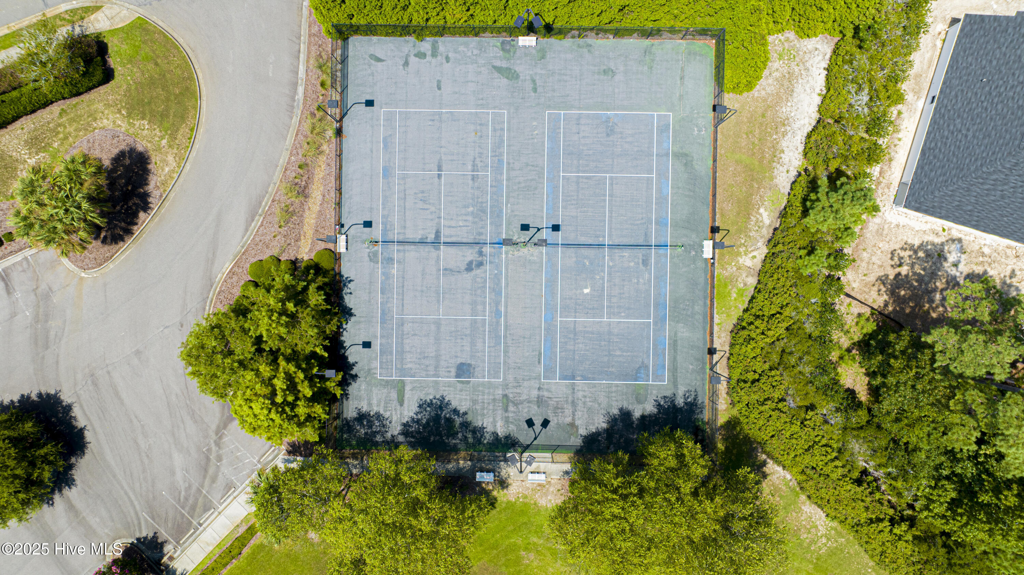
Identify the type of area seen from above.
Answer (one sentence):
The area seen from above is a sports ground.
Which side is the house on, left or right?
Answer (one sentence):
It is on the right.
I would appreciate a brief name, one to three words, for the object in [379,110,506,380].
tennis court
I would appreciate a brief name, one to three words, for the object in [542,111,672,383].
tennis court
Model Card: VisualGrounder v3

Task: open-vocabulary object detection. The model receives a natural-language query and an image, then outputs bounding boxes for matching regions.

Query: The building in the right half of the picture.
[890,16,1024,247]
